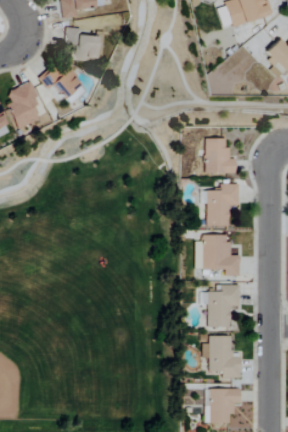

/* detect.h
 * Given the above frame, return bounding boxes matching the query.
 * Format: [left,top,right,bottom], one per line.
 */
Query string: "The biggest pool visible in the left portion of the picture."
[78,71,95,98]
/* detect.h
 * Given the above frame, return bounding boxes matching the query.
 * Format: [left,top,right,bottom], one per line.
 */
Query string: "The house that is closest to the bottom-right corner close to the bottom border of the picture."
[203,389,242,424]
